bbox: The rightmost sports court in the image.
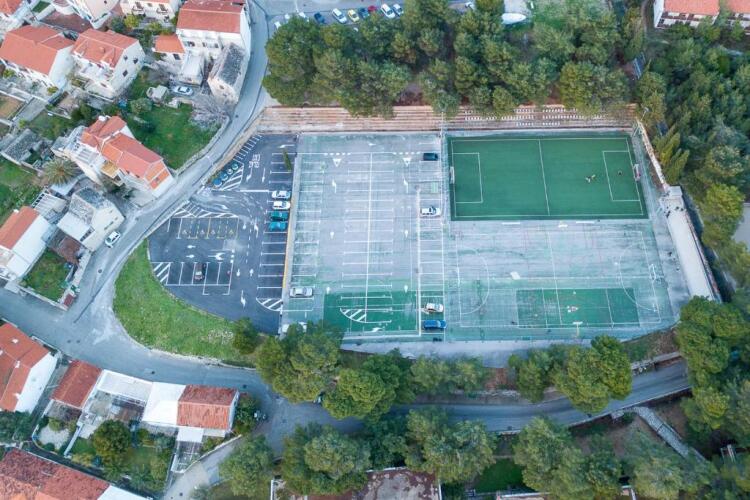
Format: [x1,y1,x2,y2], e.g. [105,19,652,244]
[444,219,679,338]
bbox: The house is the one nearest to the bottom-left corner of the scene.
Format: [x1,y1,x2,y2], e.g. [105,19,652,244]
[0,447,109,500]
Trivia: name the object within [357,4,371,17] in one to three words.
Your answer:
vehicle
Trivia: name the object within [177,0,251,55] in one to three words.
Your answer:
house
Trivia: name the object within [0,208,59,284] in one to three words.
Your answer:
house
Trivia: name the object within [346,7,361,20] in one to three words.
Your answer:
vehicle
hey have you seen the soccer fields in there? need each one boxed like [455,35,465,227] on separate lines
[448,135,649,221]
